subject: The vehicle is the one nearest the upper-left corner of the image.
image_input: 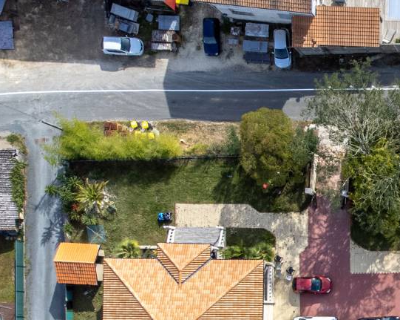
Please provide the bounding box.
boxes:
[102,34,146,57]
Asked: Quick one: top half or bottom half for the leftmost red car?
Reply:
bottom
